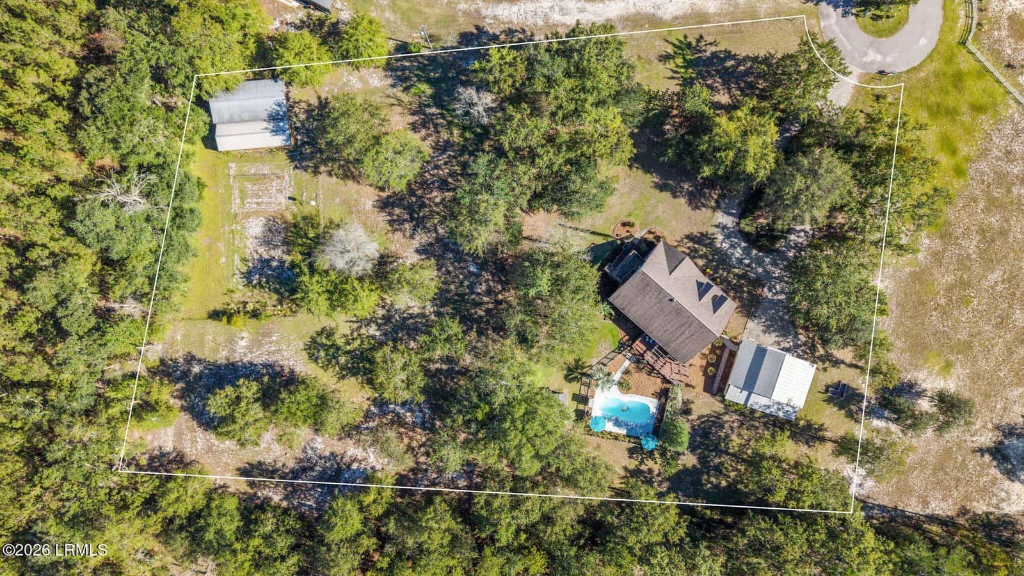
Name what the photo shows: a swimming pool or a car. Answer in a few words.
swimming pool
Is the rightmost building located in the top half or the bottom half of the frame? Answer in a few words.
bottom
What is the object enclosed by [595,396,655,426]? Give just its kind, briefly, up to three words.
swimming pool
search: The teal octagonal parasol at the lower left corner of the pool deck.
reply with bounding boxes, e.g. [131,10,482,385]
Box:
[589,415,606,432]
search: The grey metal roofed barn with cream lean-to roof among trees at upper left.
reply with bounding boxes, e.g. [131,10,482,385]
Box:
[210,79,297,154]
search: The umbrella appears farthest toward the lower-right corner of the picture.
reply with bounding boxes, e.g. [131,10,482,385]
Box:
[641,434,657,450]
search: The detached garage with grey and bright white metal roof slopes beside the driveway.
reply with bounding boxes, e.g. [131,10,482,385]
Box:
[723,339,816,422]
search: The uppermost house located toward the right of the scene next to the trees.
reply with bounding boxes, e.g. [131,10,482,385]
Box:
[608,239,736,365]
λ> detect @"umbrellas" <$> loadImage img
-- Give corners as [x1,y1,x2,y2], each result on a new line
[589,415,606,432]
[641,434,657,450]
